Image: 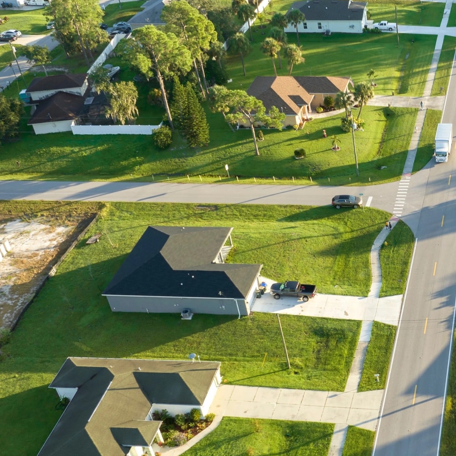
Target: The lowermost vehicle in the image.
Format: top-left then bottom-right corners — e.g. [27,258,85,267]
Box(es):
[268,279,316,300]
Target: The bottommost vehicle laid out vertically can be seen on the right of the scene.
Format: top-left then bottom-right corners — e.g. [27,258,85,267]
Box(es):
[433,125,452,160]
